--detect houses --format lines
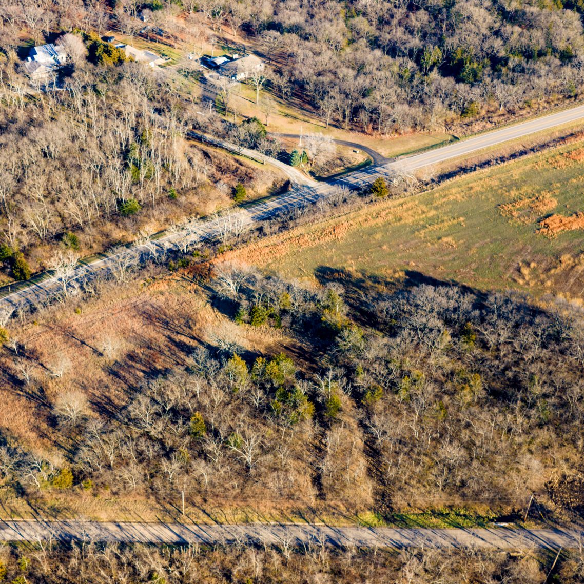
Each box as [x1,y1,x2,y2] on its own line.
[213,53,265,78]
[26,43,73,78]
[116,44,169,68]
